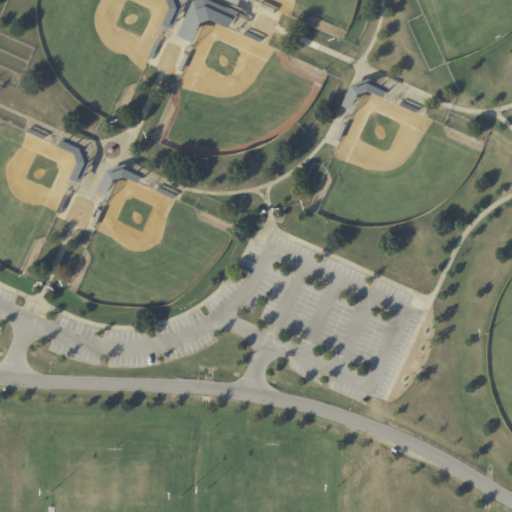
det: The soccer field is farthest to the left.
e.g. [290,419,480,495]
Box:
[0,404,197,512]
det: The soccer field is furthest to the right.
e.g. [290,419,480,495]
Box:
[199,412,338,512]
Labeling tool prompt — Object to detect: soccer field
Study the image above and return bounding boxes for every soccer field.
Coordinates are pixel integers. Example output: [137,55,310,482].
[0,404,197,512]
[199,412,338,512]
